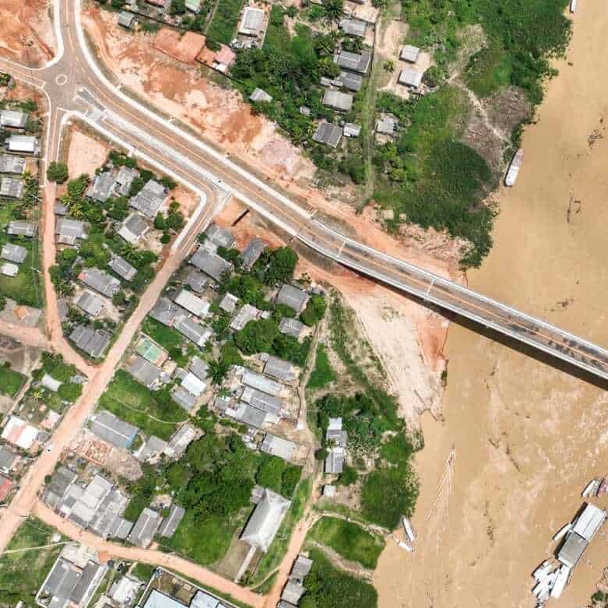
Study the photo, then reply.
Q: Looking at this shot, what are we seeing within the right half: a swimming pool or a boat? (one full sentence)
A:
The one visible within the right half is a boat.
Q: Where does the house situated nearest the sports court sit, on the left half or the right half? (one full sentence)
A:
It is on the left.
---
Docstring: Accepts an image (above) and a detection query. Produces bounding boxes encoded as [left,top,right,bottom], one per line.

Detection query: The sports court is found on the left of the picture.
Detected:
[134,338,167,368]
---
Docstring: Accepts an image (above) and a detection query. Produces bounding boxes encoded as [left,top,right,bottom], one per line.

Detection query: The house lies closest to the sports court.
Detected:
[128,356,163,387]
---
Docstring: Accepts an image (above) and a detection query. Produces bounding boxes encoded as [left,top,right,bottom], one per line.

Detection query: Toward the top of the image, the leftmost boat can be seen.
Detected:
[504,149,520,187]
